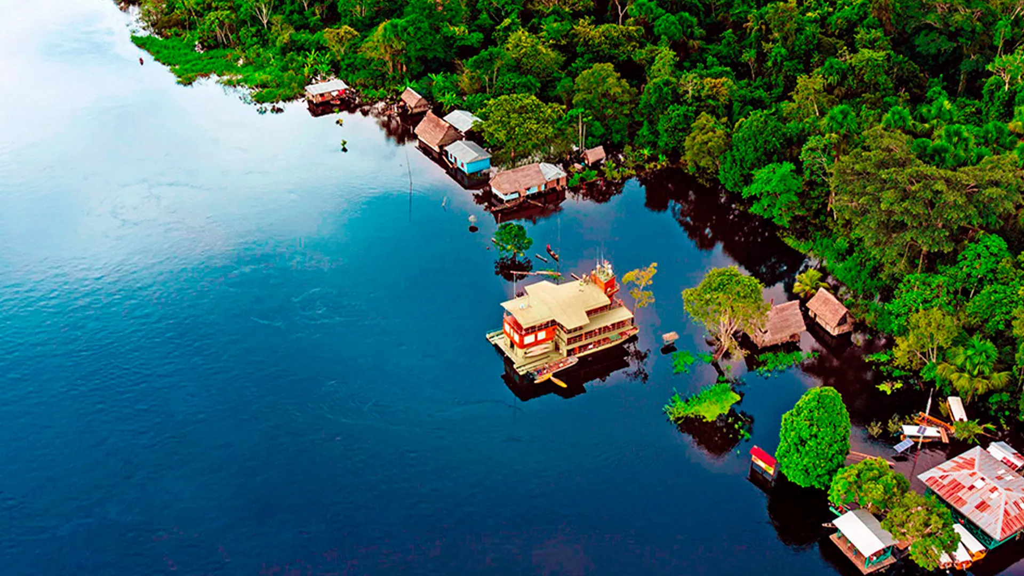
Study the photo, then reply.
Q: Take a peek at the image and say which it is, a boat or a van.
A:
boat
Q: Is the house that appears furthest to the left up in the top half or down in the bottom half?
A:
top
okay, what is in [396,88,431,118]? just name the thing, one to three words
shed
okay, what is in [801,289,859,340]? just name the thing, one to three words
shed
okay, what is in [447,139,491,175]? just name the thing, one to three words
house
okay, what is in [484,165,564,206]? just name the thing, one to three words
house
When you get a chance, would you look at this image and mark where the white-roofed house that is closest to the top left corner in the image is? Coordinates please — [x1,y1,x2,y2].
[306,81,353,105]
